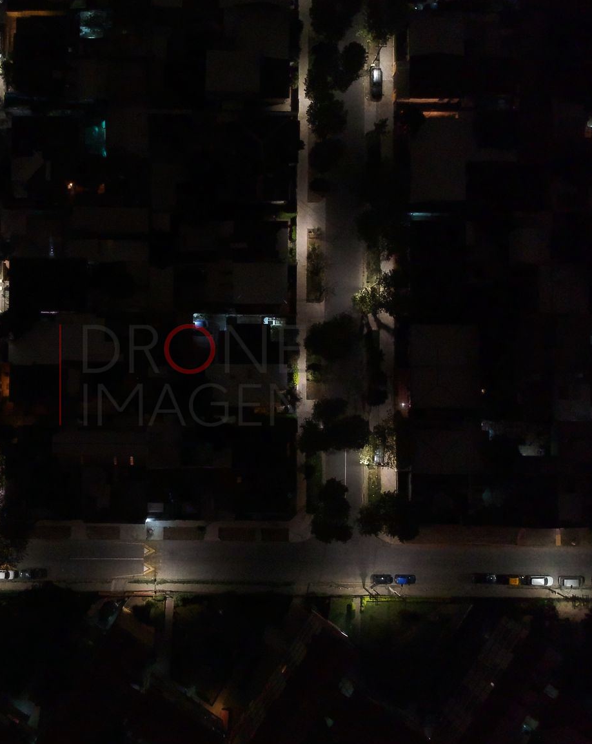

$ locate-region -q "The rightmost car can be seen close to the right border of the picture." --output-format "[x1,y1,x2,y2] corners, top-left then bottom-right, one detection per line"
[558,577,584,589]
